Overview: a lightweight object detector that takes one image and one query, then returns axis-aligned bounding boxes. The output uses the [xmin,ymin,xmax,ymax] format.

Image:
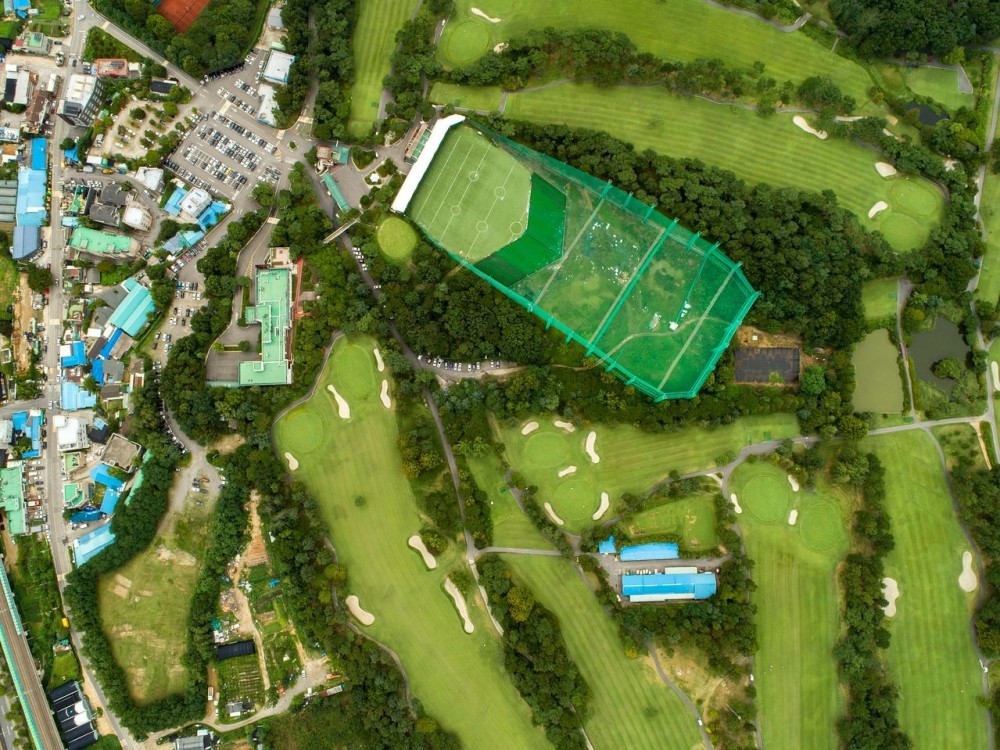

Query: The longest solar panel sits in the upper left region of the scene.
[4,79,18,103]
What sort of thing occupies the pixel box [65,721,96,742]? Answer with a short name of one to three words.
greenhouse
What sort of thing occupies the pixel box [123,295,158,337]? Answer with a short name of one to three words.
building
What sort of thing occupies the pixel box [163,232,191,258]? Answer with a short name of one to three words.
shed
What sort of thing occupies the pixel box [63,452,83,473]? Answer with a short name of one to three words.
house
